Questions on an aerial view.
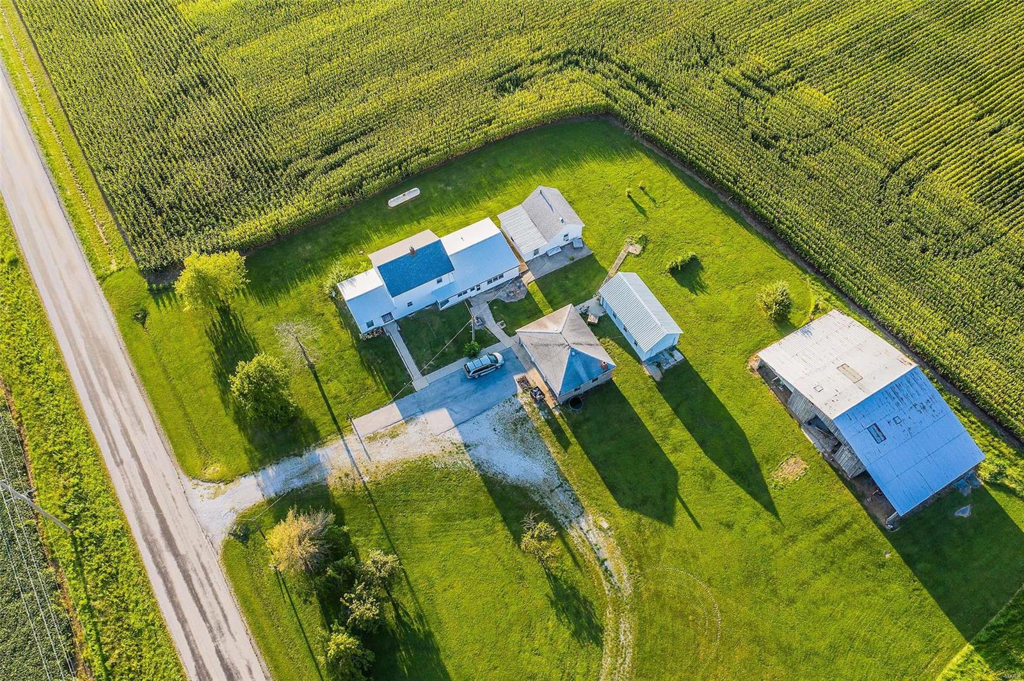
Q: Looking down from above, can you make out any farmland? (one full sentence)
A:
Yes, farmland shows up in the scene.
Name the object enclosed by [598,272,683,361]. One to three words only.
shed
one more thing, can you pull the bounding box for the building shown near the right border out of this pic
[757,307,979,530]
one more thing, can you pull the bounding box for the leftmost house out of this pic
[335,217,520,333]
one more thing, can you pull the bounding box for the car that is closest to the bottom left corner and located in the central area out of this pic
[461,348,507,378]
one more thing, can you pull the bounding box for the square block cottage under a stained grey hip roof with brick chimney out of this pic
[515,303,617,402]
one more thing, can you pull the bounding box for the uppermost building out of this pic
[497,184,585,263]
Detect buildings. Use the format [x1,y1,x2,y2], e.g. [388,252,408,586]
[335,217,520,333]
[497,184,585,263]
[757,307,979,530]
[515,303,617,402]
[598,272,683,361]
